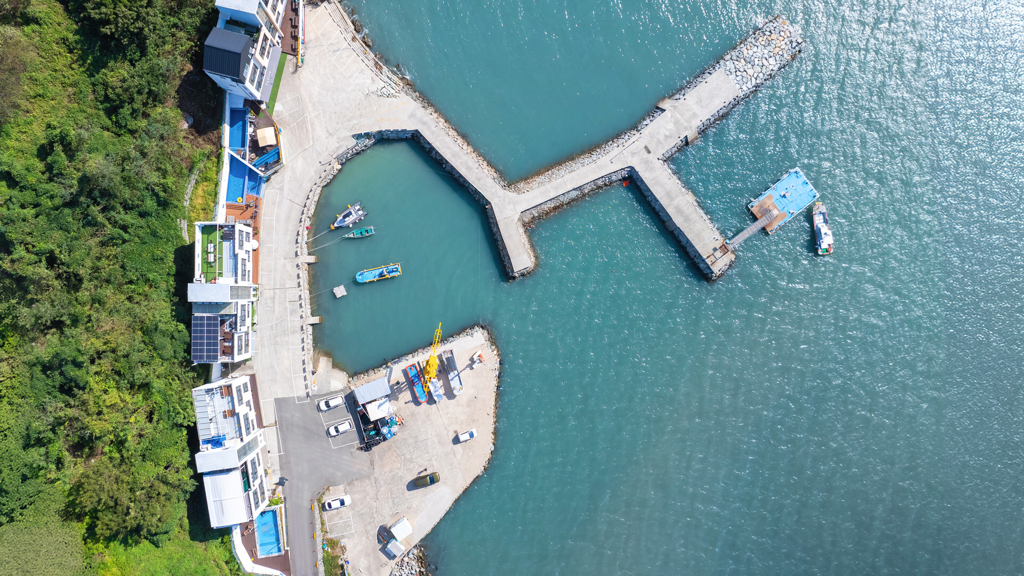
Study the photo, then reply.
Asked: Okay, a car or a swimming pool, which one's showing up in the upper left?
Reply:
swimming pool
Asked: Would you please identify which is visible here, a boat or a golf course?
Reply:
boat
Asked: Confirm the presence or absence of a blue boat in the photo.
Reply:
Yes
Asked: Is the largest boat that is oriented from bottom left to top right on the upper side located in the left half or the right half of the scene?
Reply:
left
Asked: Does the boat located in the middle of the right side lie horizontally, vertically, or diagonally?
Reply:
vertically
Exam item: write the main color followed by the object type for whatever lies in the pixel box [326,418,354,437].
white car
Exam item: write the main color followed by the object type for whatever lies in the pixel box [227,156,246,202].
blue swimming pool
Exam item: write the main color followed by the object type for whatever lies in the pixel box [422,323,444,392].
yellow crane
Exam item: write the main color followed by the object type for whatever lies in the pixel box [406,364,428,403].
blue boat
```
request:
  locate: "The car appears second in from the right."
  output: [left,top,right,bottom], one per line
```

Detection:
[414,472,440,488]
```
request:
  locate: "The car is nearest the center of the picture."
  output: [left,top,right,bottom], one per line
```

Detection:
[458,428,478,442]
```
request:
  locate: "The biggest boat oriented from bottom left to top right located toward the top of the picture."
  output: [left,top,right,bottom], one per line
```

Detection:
[331,198,372,229]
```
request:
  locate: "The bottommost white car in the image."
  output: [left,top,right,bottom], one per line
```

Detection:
[324,495,352,511]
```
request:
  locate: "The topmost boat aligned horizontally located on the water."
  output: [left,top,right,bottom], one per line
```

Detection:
[343,225,376,238]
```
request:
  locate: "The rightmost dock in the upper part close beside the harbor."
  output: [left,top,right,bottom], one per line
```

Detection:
[401,14,806,283]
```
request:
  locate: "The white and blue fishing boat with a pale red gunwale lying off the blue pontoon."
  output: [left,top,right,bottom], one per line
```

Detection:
[810,203,833,254]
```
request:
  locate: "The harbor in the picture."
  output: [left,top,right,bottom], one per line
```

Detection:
[297,130,501,576]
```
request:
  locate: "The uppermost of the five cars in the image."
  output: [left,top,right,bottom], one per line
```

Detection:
[317,393,345,412]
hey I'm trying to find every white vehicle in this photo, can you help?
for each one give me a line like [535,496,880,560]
[458,428,478,442]
[317,393,345,412]
[324,495,352,511]
[326,418,354,437]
